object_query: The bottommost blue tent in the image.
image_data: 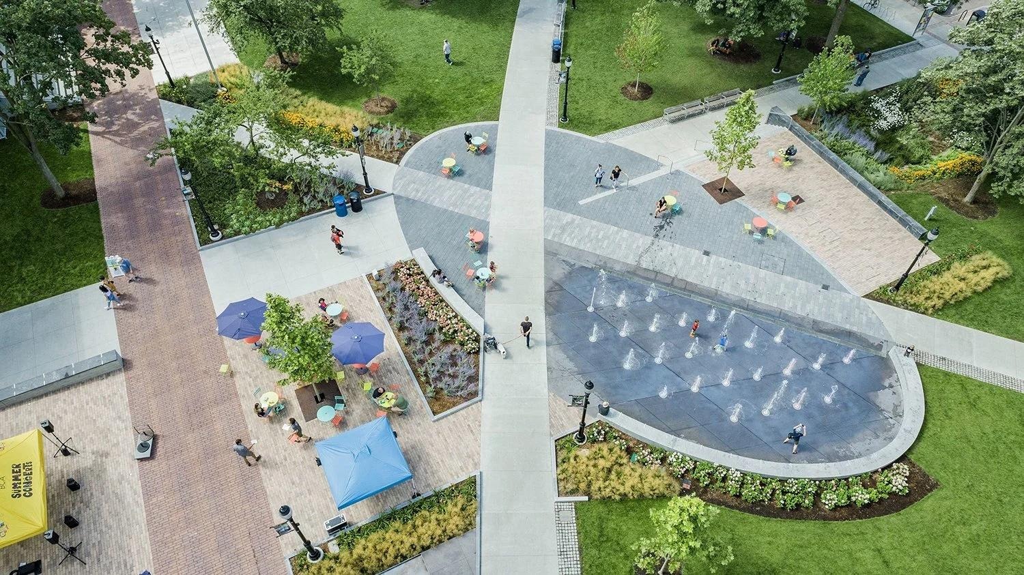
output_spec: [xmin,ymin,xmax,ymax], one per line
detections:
[315,417,423,535]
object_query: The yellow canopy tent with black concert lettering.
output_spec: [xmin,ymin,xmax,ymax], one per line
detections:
[0,430,82,559]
